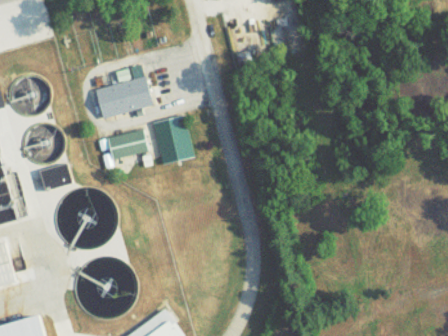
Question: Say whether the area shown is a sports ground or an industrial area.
industrial area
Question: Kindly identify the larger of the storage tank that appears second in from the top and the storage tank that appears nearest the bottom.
the storage tank that appears nearest the bottom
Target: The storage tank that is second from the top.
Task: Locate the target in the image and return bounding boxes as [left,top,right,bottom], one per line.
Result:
[19,122,65,164]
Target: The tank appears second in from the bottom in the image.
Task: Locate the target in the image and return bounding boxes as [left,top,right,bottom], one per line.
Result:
[55,186,118,252]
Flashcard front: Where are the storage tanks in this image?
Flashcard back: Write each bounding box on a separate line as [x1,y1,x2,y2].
[4,72,51,116]
[72,256,137,318]
[19,122,65,164]
[55,186,118,252]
